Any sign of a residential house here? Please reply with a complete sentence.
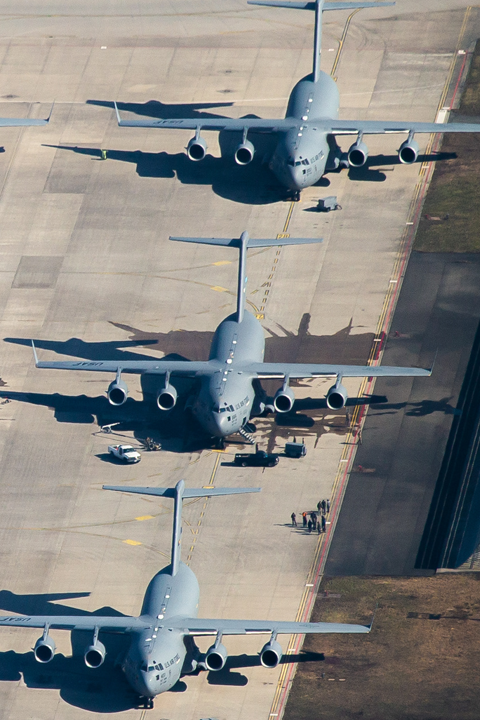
No, the scene contains no residential house.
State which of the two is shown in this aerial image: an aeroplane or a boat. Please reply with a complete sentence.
This aerial view contains an aeroplane.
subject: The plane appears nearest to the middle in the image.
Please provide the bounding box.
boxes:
[31,228,438,449]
